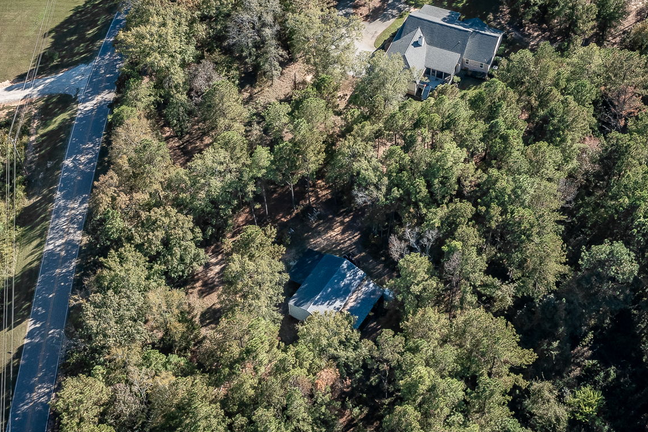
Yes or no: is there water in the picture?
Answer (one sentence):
No, the scene doesn't show any water.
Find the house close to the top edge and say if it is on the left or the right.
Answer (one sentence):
You can find the house close to the top edge on the right side of the picture.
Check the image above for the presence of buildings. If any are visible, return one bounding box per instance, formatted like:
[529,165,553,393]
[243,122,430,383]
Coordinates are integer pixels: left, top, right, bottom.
[282,243,385,336]
[378,3,505,90]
